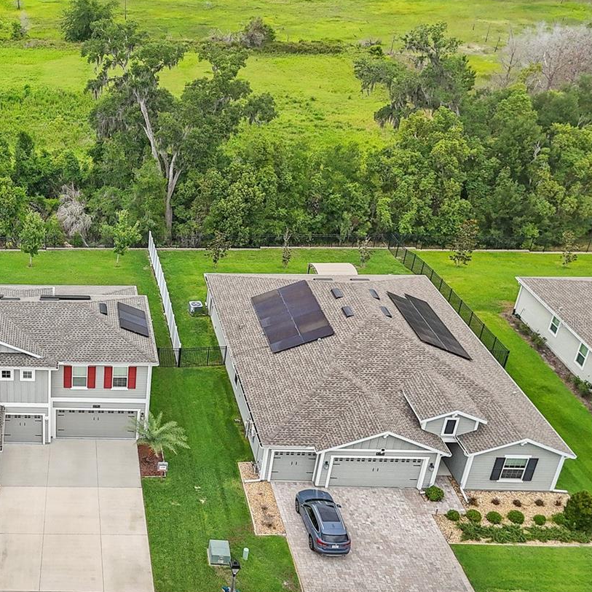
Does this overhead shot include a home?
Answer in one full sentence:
Yes, the image includes a home.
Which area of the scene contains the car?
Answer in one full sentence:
The car sits in the bottom section of the image.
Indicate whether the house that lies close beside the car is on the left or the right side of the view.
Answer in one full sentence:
The house that lies close beside the car is on the right side of the image.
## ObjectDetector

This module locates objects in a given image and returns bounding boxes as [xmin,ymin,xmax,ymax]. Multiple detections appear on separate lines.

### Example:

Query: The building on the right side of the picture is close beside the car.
[202,273,578,501]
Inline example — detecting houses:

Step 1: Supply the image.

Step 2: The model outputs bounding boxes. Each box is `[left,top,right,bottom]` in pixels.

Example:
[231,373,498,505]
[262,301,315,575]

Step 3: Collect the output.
[202,273,578,501]
[0,282,159,462]
[510,277,592,386]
